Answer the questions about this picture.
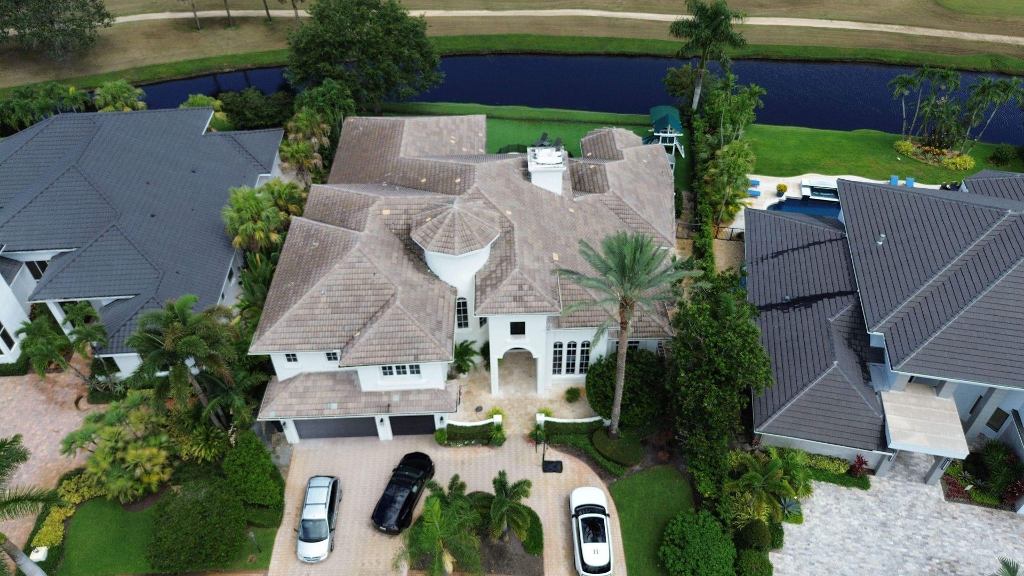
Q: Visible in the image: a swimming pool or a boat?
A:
swimming pool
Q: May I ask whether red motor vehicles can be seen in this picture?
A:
No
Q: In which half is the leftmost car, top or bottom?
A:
bottom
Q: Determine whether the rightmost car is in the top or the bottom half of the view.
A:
bottom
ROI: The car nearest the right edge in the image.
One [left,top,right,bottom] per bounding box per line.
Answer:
[569,488,615,576]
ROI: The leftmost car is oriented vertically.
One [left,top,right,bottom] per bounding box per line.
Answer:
[294,477,343,564]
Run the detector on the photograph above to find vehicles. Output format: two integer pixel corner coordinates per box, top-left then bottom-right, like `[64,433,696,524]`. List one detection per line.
[376,454,435,533]
[569,488,615,576]
[294,477,343,564]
